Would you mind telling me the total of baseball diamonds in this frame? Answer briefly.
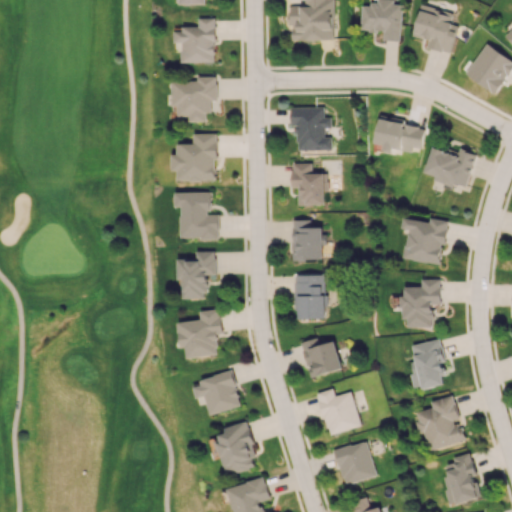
0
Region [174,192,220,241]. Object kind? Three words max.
house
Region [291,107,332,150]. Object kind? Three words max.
house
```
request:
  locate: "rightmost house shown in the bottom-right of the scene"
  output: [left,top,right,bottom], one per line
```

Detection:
[446,453,482,507]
